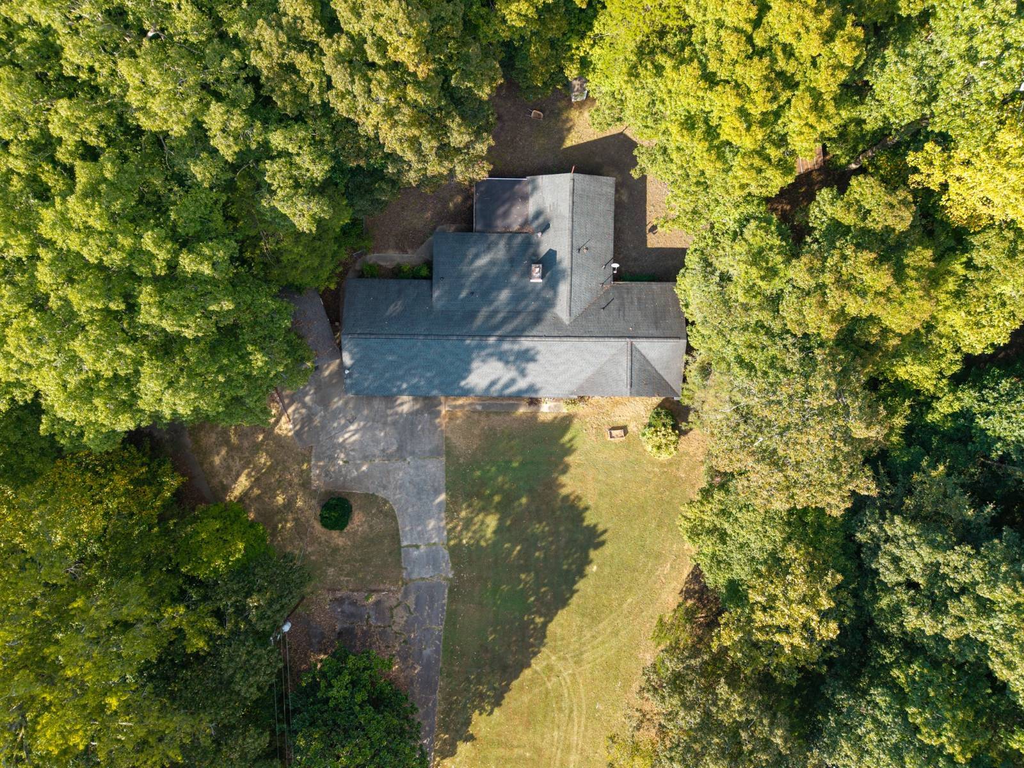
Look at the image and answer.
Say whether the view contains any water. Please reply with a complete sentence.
No, no water is visible.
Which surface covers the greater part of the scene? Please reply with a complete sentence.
The bulk of the photo consists of trees.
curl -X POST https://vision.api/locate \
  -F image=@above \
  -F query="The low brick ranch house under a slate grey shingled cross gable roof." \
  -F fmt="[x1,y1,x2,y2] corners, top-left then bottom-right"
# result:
[338,172,690,402]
